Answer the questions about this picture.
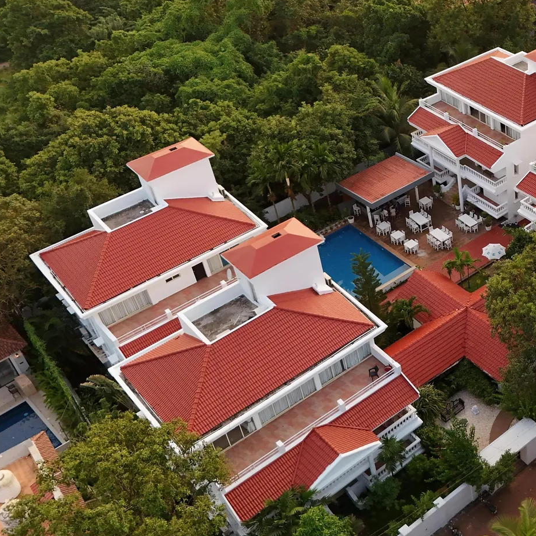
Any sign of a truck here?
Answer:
No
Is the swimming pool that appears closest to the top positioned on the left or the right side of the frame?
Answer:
right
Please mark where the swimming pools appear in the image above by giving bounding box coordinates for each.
[319,224,408,298]
[0,405,44,448]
